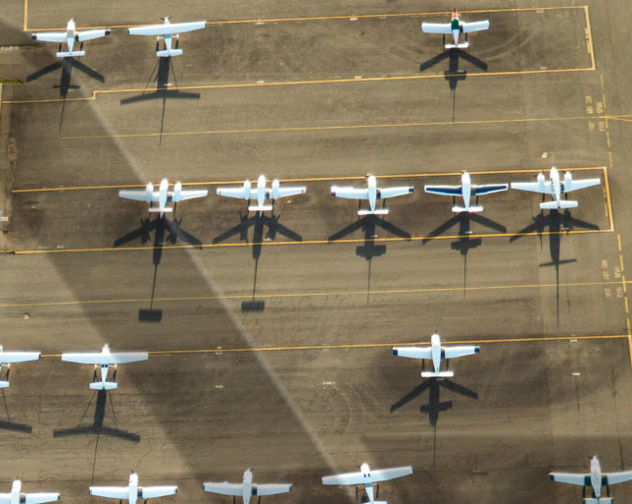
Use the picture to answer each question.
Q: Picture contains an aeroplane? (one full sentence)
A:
Yes, there's an aeroplane here.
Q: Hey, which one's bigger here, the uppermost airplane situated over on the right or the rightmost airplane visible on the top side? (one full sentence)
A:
The rightmost airplane visible on the top side is larger than the uppermost airplane situated over on the right.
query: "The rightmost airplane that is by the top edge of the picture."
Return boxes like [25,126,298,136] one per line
[421,12,489,46]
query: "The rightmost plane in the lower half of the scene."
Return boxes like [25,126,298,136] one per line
[550,454,632,504]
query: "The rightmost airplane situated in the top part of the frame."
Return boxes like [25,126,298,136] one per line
[511,166,601,210]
